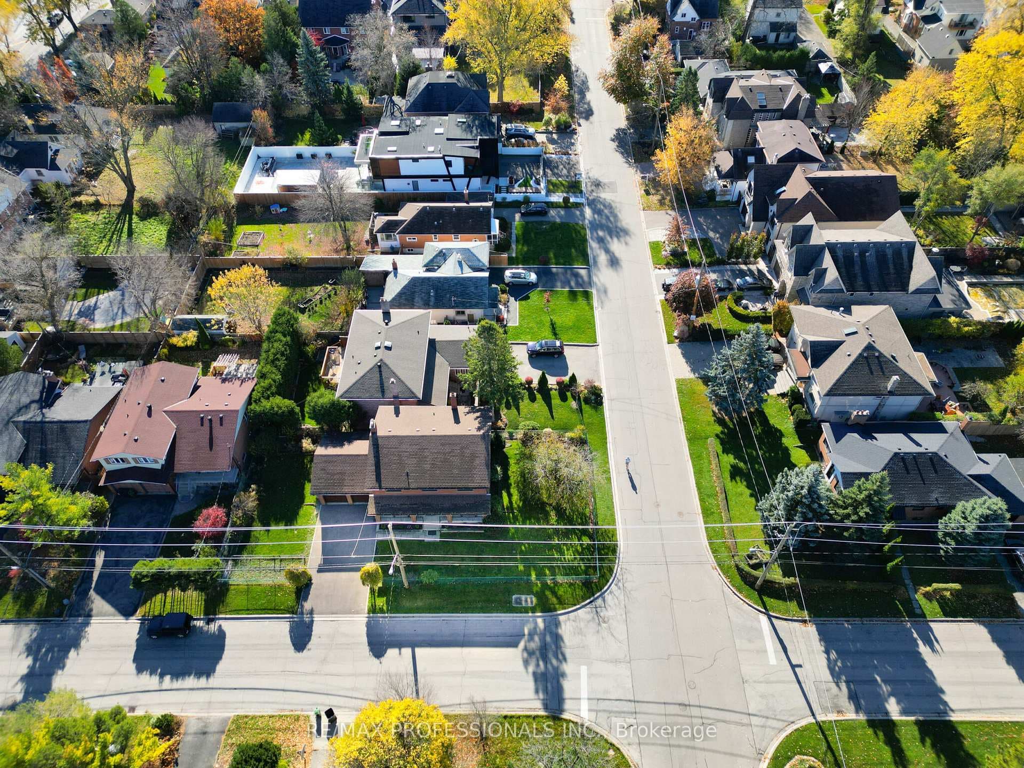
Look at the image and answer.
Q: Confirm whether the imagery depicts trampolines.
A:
Yes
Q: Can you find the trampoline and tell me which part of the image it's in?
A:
left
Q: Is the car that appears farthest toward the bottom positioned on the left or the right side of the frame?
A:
left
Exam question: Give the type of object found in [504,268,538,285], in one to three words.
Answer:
car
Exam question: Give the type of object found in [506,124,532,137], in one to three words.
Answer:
vehicle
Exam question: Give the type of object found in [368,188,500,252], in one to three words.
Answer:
house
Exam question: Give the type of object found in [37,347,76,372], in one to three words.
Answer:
trampoline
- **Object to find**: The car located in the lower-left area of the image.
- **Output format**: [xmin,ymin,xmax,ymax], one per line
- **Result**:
[139,609,198,639]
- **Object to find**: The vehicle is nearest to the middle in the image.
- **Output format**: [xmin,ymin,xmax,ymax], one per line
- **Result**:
[526,338,565,357]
